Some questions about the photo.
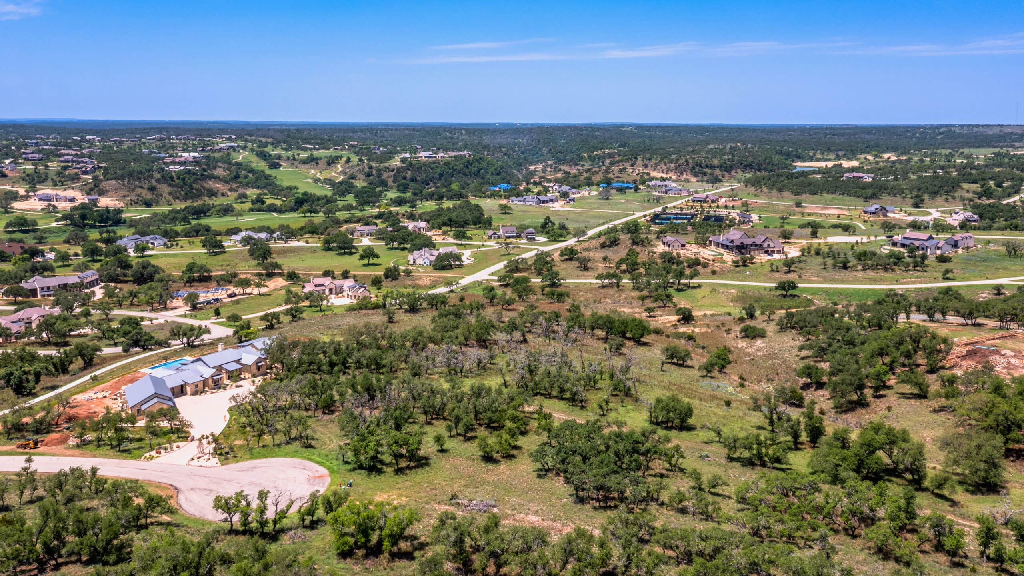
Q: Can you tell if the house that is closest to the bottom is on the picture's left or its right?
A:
left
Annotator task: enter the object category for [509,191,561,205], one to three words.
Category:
house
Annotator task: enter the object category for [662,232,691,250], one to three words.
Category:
house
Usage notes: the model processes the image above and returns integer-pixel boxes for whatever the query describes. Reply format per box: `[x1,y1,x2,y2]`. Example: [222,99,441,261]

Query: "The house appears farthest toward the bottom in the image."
[125,336,274,422]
